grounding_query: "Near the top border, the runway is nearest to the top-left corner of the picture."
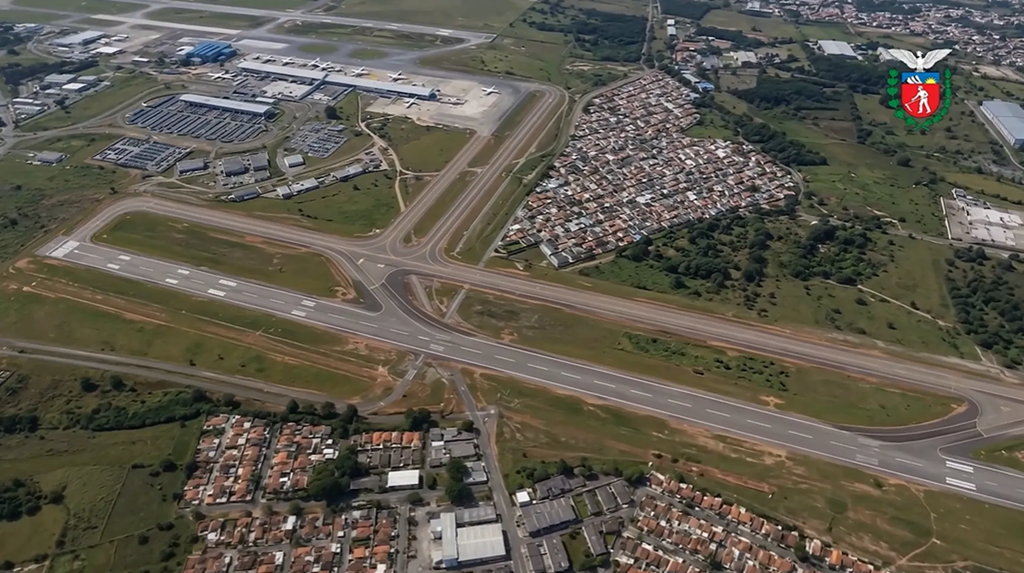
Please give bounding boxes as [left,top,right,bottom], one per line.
[124,0,495,40]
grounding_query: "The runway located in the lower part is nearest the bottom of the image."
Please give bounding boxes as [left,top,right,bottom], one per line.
[45,238,1024,511]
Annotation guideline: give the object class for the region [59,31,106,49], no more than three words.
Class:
building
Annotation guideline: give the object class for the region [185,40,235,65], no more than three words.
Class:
hangar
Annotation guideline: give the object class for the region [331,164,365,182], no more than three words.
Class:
shed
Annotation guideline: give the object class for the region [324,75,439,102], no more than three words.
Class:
building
